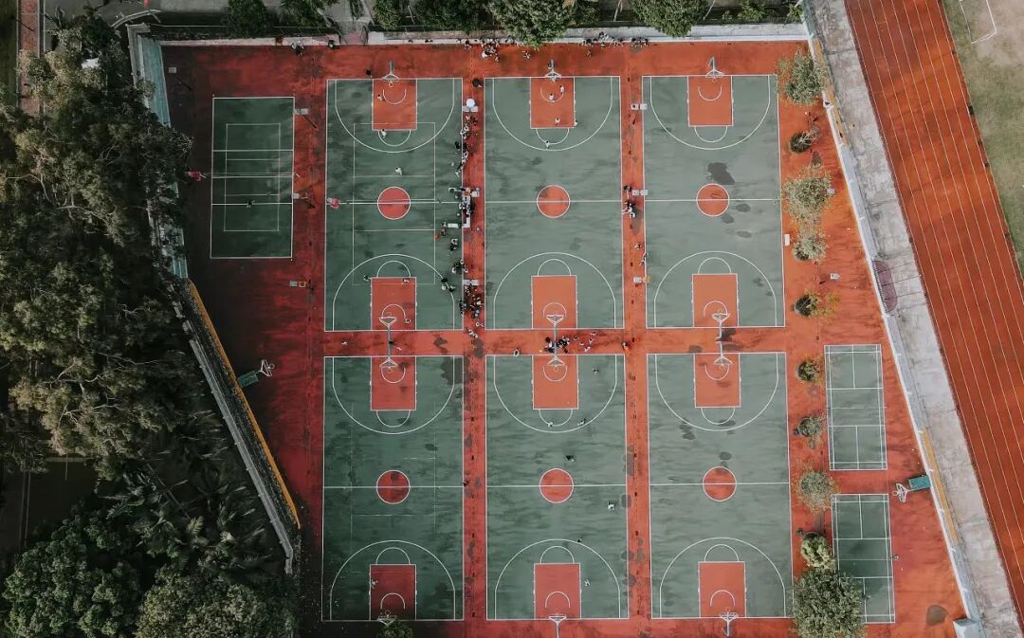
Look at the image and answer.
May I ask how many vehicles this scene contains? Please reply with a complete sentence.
The picture shows no vehicles.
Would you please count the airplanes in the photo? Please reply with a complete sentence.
The picture shows no airplanes.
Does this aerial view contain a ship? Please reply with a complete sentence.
No, no ship can be seen from above.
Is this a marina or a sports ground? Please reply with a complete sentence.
This image shows a sports ground.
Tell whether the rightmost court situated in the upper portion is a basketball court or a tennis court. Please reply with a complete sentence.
The rightmost court situated in the upper portion can be classified as a basketball court.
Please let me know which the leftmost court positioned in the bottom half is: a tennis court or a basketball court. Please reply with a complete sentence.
I'd say the leftmost court positioned in the bottom half is a basketball court.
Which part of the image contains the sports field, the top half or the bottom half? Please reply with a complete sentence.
Seen from above, the sports field lies in the top half of the view.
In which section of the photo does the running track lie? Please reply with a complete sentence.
Look in the right portion of the view to spot the running track.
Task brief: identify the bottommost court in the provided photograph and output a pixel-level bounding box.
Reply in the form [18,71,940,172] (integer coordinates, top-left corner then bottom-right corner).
[832,493,896,623]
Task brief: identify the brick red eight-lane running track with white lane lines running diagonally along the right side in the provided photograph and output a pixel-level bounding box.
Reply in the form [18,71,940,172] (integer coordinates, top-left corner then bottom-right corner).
[845,0,1024,638]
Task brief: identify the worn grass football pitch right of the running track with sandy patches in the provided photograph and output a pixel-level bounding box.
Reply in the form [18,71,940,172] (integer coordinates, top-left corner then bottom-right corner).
[946,0,1024,271]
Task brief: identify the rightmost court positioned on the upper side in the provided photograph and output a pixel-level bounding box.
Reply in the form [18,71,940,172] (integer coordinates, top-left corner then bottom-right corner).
[641,75,785,329]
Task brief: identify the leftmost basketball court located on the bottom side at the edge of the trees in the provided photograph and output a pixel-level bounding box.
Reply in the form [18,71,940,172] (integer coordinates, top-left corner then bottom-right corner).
[322,355,464,621]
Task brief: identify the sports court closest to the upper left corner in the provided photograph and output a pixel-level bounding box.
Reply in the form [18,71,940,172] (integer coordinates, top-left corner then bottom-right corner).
[209,96,294,259]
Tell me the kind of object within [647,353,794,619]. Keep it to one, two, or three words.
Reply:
basketball court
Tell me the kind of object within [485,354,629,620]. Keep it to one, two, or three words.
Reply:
basketball court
